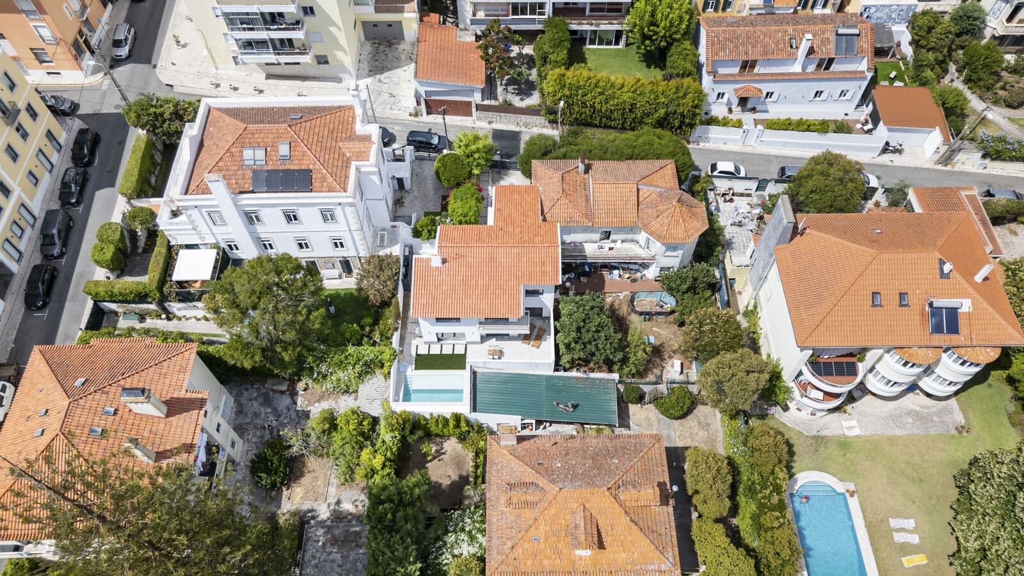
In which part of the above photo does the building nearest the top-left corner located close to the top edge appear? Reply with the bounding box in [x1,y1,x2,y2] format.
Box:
[0,0,112,79]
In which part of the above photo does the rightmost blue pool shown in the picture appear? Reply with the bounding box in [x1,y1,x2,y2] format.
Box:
[789,469,883,576]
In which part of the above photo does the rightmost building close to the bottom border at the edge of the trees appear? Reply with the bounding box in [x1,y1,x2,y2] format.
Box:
[484,424,682,576]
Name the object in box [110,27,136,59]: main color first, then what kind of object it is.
gray car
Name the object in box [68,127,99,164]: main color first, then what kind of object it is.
black car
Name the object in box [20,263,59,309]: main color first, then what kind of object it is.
black car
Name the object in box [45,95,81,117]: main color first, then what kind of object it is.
gray car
